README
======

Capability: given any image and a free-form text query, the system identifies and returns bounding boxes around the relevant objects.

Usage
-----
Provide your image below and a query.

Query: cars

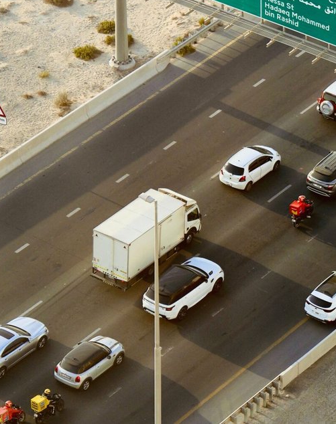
[139,258,225,324]
[303,268,336,324]
[52,334,126,390]
[219,144,282,191]
[311,79,336,123]
[305,149,336,199]
[0,315,50,377]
